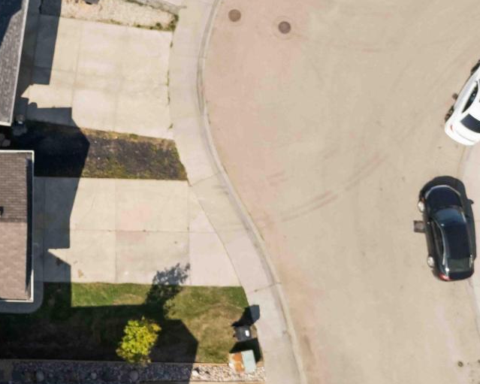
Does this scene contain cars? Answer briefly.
Yes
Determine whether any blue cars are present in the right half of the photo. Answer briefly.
No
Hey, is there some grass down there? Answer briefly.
Yes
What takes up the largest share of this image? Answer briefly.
paved ground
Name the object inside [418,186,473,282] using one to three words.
car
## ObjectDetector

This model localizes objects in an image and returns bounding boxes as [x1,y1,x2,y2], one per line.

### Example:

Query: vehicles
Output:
[418,186,473,282]
[441,61,480,146]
